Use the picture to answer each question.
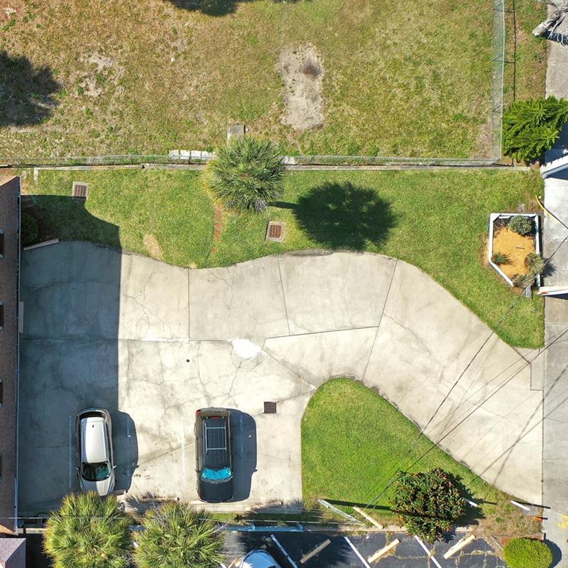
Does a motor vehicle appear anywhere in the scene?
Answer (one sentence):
Yes, a motor vehicle appears in the view.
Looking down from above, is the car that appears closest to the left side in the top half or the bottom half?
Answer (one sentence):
The car that appears closest to the left side sits in the bottom half of the picture.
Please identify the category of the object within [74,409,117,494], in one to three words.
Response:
car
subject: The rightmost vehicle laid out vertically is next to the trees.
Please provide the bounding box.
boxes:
[191,404,239,501]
